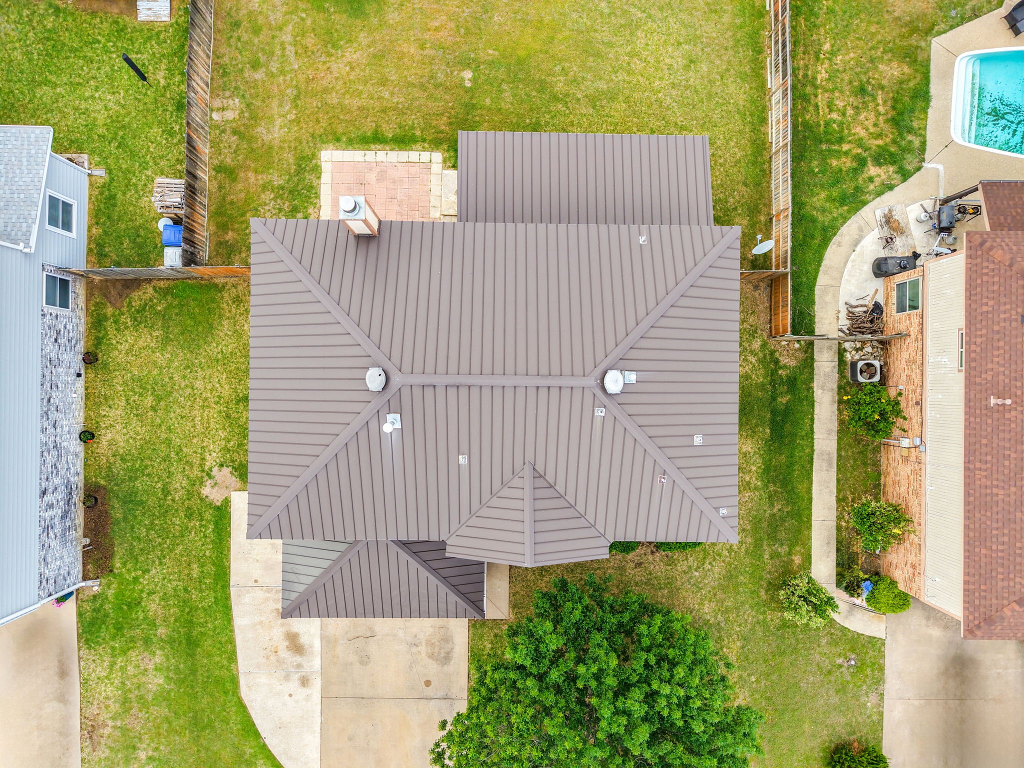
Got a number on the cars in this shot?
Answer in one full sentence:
The count of cars is 0.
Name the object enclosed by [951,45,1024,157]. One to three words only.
swimming pool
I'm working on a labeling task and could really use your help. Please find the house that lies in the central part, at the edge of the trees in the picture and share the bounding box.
[247,130,742,620]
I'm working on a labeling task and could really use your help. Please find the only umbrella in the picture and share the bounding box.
[121,51,153,87]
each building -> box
[247,130,742,620]
[0,124,94,626]
[880,178,1024,640]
